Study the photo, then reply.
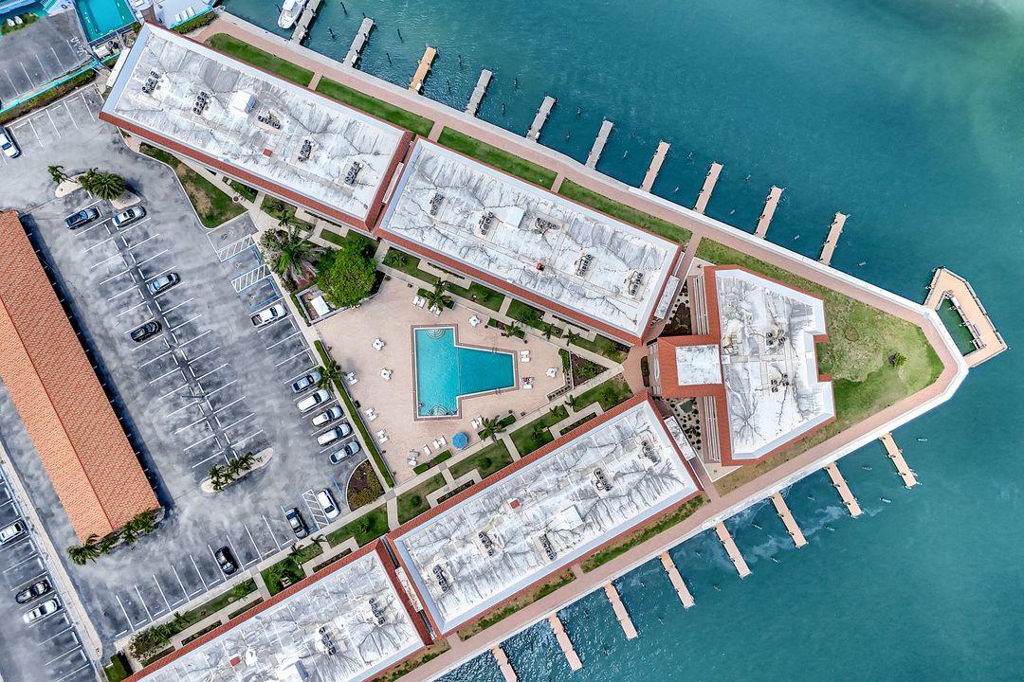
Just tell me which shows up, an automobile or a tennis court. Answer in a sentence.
Of the two, only an automobile appears.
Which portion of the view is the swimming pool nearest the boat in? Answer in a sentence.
Look in the top left portion of the view to spot the swimming pool nearest the boat.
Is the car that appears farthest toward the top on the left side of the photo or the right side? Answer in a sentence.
It is on the left.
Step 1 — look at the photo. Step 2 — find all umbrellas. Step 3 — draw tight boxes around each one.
[451,432,469,450]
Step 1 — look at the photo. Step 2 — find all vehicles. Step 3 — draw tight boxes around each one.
[16,580,53,604]
[316,422,354,447]
[285,506,310,539]
[310,404,345,428]
[249,302,289,329]
[290,371,323,393]
[314,486,341,520]
[24,597,61,622]
[328,441,362,464]
[147,272,181,294]
[214,543,240,578]
[112,205,148,228]
[129,320,164,343]
[62,205,102,231]
[0,125,20,159]
[295,388,333,413]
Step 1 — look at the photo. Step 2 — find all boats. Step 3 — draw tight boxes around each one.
[281,0,305,27]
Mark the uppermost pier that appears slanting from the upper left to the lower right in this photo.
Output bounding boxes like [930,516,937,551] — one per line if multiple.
[917,267,1011,367]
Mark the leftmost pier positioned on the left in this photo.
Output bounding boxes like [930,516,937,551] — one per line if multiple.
[292,0,321,43]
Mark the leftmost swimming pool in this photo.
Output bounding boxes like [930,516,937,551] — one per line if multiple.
[75,0,137,40]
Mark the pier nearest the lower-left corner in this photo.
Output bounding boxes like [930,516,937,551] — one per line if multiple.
[492,643,521,682]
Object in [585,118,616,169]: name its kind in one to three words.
pier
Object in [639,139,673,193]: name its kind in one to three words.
pier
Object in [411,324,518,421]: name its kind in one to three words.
swimming pool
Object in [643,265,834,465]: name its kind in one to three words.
building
